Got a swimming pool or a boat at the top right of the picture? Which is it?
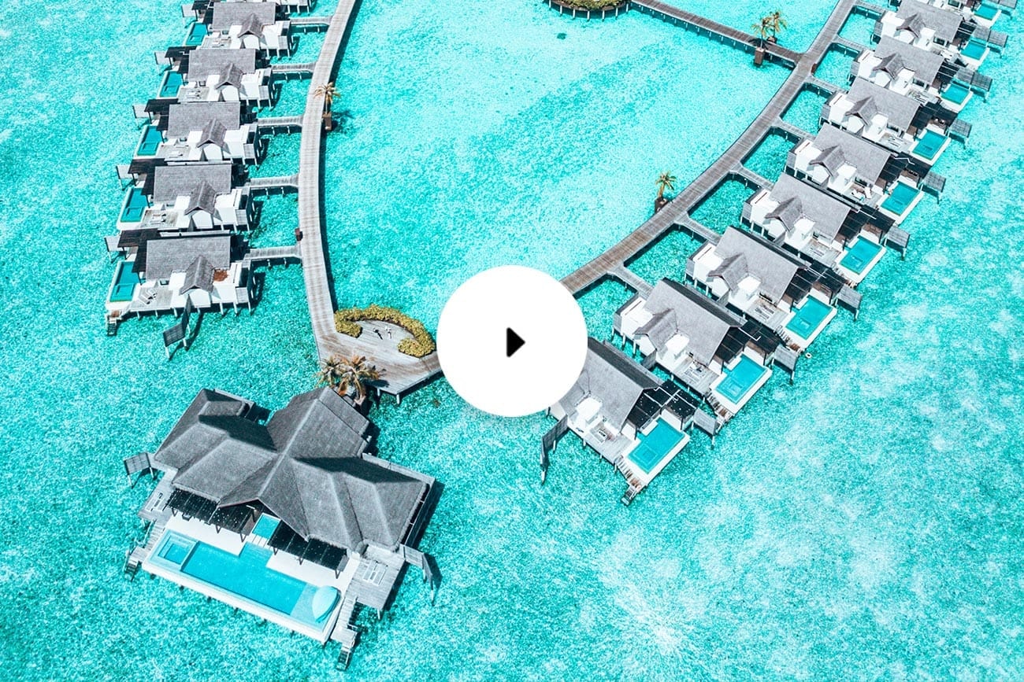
swimming pool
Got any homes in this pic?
Yes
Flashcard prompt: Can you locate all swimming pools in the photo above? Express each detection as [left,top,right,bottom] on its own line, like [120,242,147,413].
[934,81,976,112]
[906,128,955,165]
[113,182,154,233]
[872,179,928,227]
[142,529,352,648]
[774,293,843,353]
[955,37,991,69]
[703,352,779,419]
[130,121,168,164]
[971,0,1004,25]
[181,19,213,48]
[153,67,188,99]
[615,415,697,490]
[103,254,147,315]
[829,233,892,289]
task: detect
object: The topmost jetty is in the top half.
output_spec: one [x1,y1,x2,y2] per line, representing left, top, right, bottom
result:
[624,0,815,73]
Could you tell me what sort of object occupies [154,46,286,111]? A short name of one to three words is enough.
house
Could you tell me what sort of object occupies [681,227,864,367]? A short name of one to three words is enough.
house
